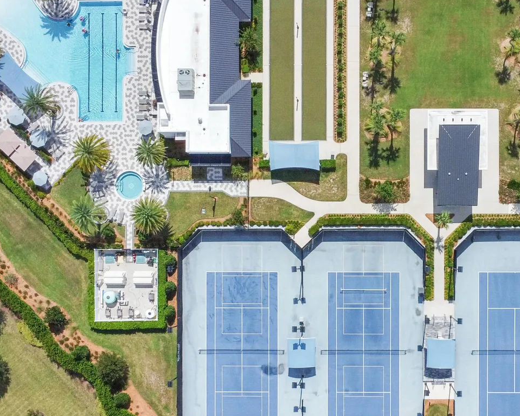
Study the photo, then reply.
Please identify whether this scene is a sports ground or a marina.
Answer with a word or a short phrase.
sports ground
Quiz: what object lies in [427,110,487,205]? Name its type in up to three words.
building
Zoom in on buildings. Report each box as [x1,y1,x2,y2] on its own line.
[150,0,252,168]
[427,110,487,205]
